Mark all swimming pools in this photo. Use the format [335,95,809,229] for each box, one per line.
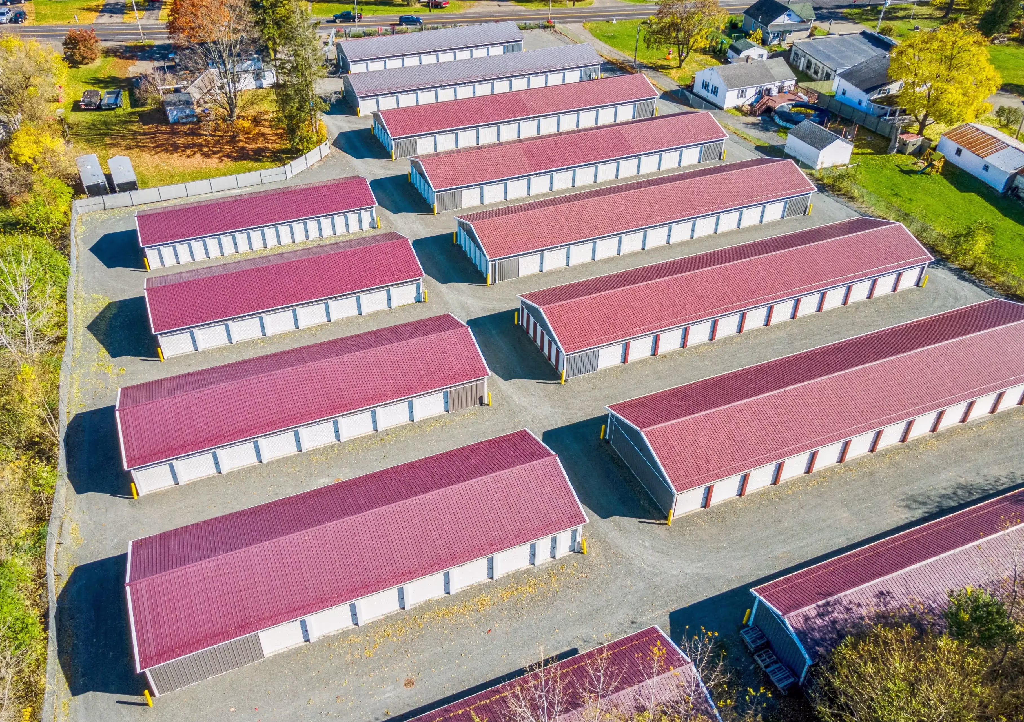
[773,107,830,130]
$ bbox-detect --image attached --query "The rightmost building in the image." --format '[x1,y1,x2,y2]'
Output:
[934,119,1024,193]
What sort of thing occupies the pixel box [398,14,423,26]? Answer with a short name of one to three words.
vehicle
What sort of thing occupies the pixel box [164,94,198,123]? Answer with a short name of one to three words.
shed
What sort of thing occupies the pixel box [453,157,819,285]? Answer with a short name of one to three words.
building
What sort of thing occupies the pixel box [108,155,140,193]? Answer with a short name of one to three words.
trailer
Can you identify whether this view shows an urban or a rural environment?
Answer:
urban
